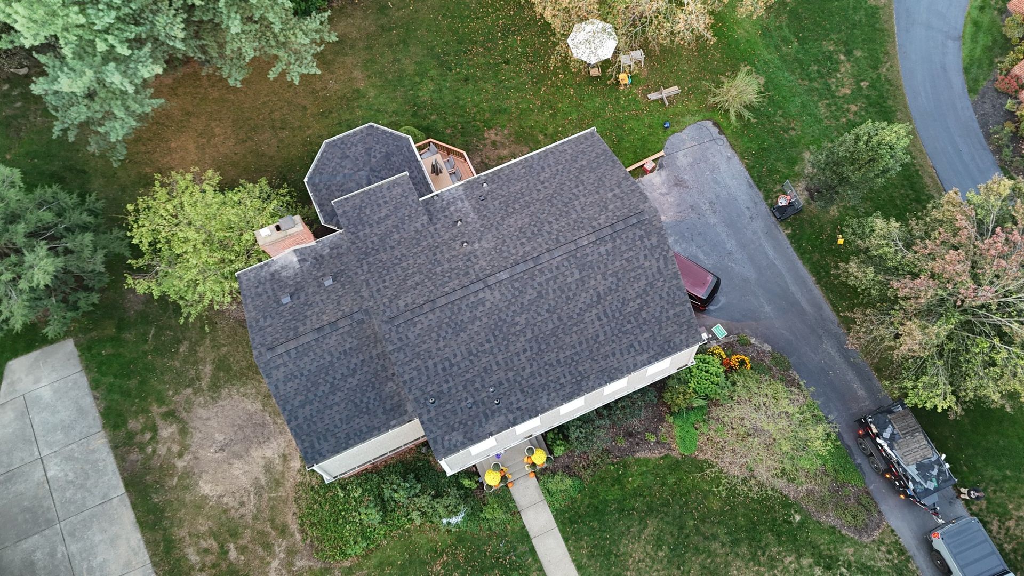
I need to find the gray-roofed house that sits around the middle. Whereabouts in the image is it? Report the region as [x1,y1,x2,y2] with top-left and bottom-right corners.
[232,120,710,484]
